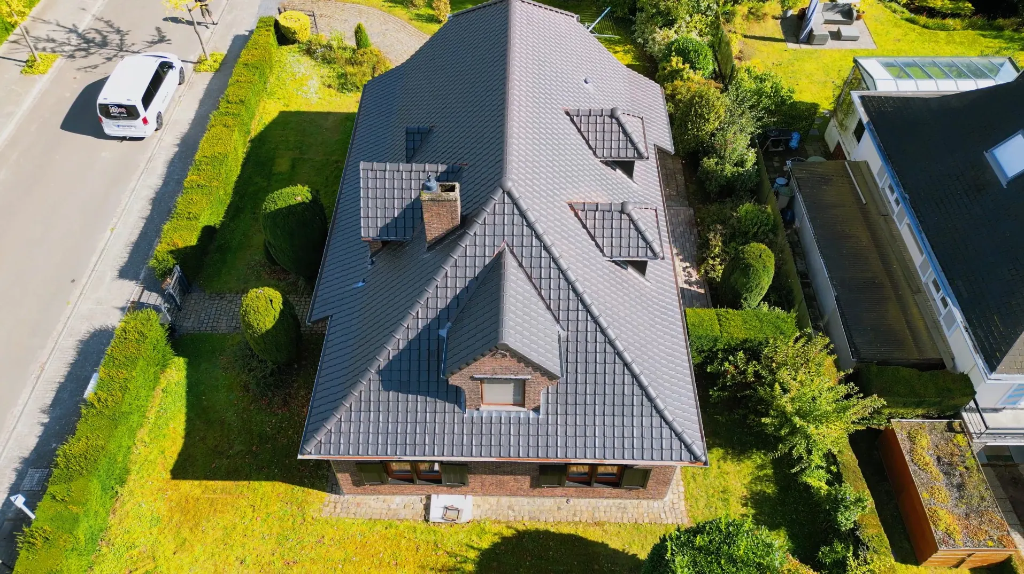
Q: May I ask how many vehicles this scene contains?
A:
1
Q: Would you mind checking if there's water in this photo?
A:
No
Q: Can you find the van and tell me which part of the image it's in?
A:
top left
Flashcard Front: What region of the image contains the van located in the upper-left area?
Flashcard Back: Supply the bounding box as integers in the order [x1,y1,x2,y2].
[91,57,185,146]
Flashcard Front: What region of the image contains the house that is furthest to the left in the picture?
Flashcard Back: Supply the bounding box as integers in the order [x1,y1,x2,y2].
[292,0,714,508]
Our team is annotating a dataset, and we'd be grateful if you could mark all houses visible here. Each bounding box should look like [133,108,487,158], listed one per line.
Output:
[820,64,1024,459]
[292,0,714,508]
